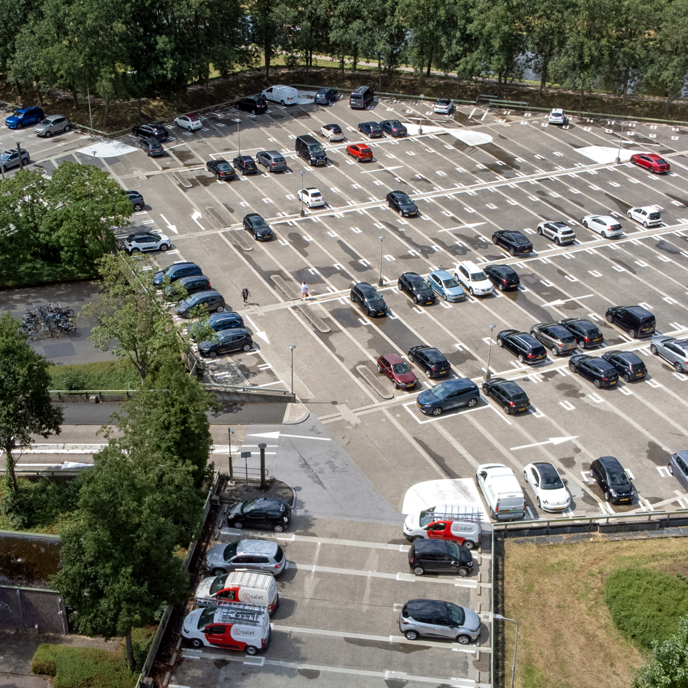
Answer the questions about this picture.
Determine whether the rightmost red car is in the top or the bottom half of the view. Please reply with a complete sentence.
The rightmost red car sits in the top half of the picture.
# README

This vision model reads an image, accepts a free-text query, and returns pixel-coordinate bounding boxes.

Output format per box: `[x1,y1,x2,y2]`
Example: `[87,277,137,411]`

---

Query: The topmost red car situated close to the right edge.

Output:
[630,152,672,174]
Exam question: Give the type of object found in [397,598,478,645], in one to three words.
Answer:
car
